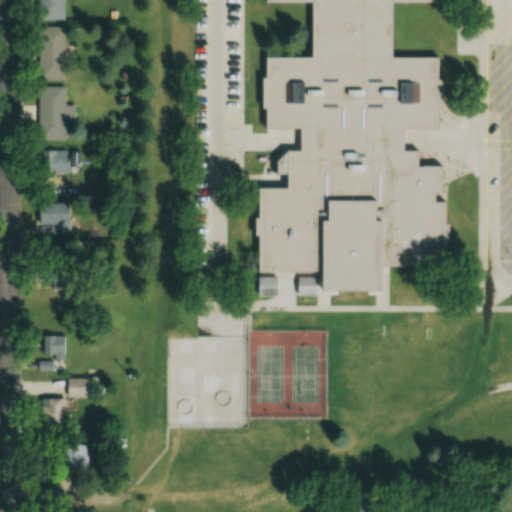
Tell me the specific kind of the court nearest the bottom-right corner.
tennis court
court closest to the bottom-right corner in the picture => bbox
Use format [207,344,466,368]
[248,331,328,418]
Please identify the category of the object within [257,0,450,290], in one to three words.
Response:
building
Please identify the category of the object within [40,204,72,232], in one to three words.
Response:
house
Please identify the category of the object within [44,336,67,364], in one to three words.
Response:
house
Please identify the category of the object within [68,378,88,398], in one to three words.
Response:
building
